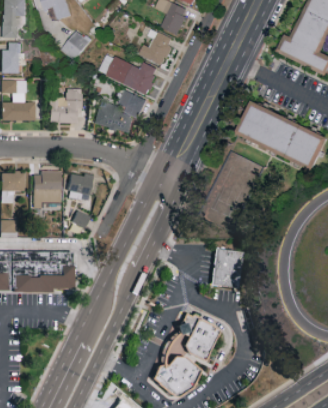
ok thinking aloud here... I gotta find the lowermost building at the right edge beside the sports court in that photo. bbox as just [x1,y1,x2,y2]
[236,102,326,168]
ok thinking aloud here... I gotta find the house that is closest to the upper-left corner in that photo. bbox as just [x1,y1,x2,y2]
[2,0,26,38]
